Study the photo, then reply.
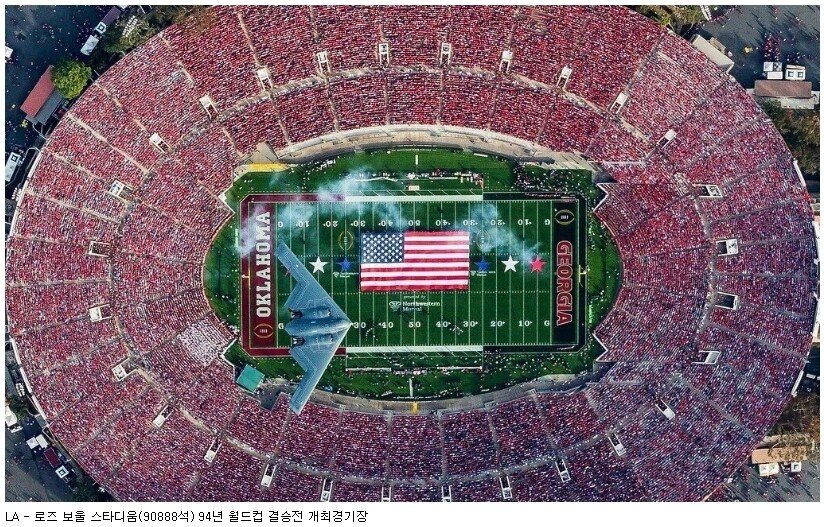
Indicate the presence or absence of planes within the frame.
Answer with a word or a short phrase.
Yes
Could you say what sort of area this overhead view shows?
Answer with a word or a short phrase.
sports ground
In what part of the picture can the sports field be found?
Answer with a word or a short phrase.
center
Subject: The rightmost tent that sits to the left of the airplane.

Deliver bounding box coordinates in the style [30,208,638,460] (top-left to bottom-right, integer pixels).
[237,364,264,392]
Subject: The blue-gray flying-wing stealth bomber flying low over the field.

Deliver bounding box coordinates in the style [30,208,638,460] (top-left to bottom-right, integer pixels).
[274,242,351,414]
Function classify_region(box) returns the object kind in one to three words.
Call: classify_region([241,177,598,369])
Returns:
sports field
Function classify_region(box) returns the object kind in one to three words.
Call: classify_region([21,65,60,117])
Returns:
building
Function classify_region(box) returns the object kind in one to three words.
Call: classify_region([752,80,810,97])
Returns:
building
